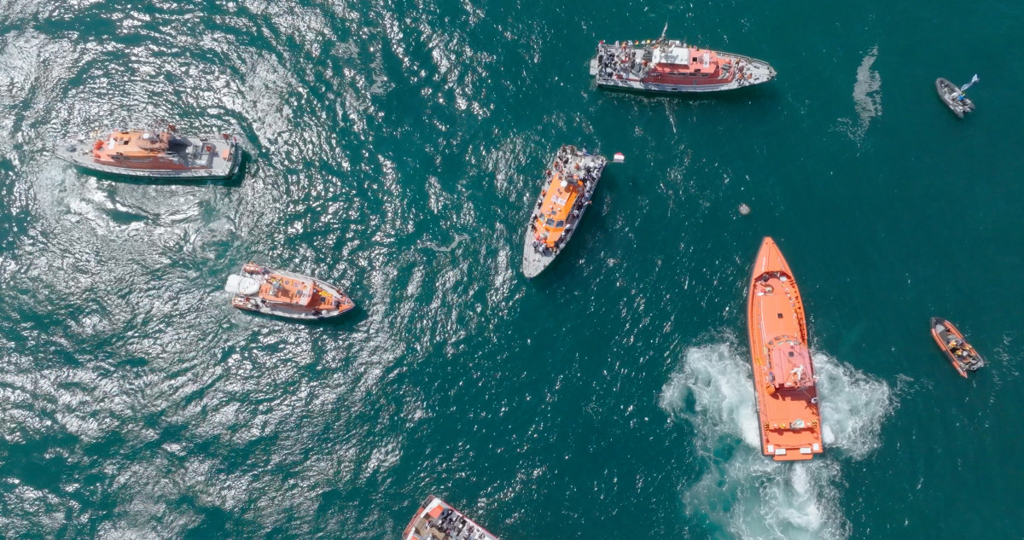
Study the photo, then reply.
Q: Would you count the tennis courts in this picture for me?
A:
0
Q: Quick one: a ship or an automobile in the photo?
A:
ship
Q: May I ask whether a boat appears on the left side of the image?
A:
Yes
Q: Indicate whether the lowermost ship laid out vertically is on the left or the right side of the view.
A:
right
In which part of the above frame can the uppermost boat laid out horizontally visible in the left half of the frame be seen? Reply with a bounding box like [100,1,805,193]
[56,122,245,179]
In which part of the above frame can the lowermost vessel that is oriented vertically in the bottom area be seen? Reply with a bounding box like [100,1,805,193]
[746,236,831,464]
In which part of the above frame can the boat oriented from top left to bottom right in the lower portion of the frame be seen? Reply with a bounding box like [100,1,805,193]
[927,318,988,381]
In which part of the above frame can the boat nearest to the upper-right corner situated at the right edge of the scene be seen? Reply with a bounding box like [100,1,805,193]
[935,76,977,121]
